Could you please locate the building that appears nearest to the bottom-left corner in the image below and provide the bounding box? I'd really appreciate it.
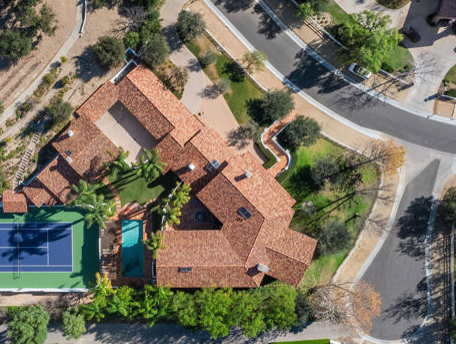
[2,190,29,213]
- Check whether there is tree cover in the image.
Yes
